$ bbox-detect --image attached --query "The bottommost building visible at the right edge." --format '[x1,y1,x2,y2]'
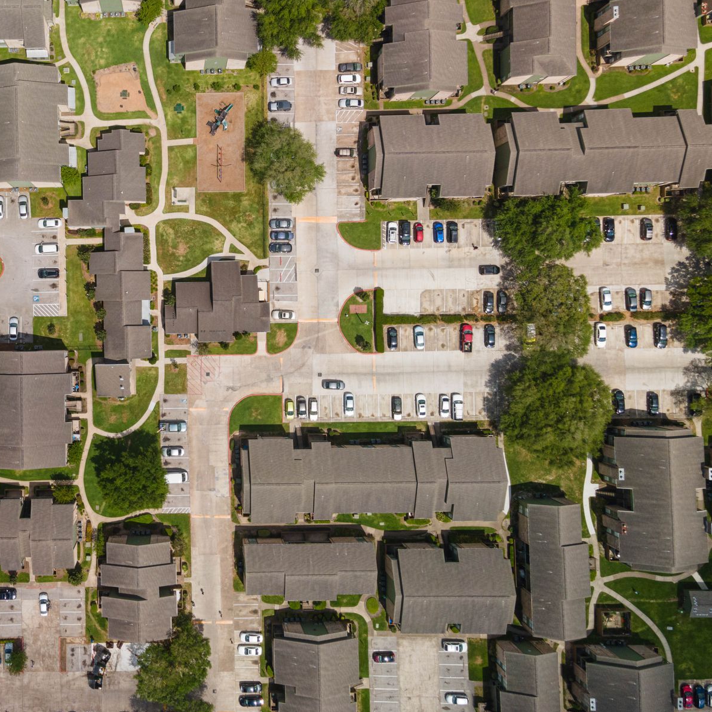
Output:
[568,647,683,712]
